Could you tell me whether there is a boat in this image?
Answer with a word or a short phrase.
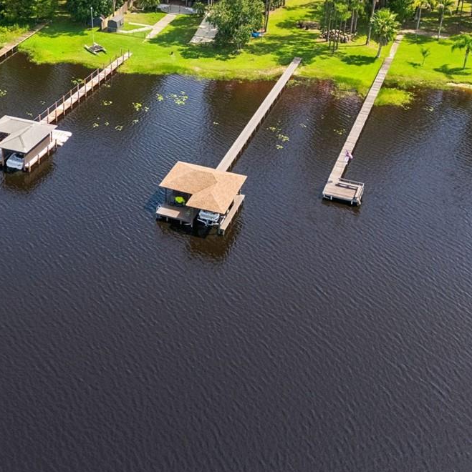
Yes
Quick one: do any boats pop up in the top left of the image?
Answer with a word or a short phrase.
Yes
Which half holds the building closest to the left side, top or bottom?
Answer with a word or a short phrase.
top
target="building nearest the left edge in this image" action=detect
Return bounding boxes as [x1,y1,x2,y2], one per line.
[0,114,65,177]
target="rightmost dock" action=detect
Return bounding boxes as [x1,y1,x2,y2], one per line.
[322,53,398,211]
